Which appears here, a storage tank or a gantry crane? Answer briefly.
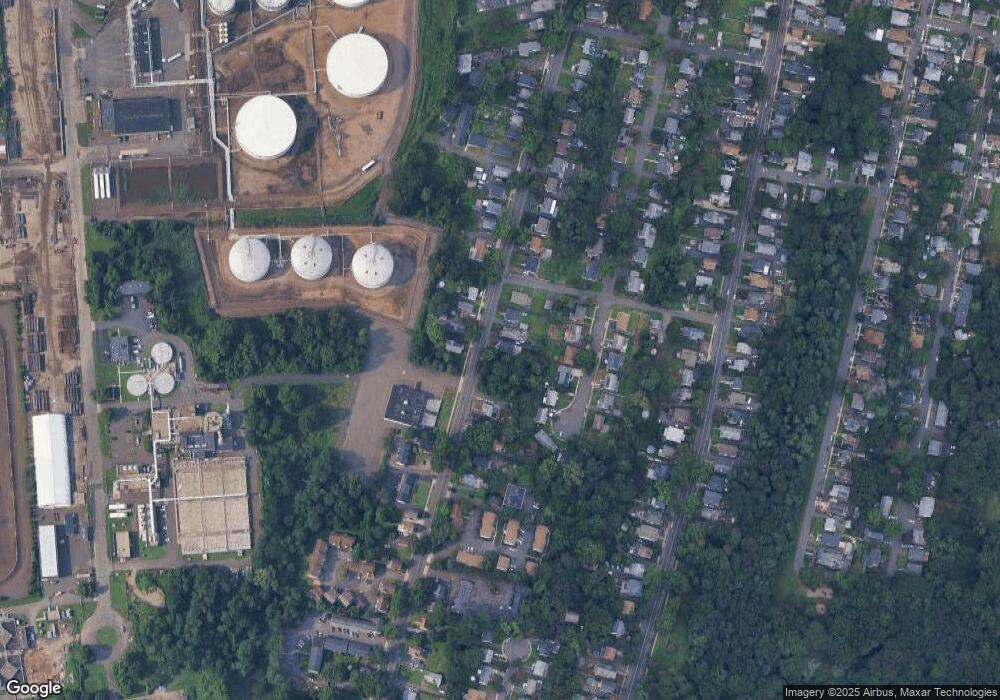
storage tank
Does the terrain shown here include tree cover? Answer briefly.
Yes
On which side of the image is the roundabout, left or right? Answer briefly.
left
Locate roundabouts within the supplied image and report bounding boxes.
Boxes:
[80,597,130,661]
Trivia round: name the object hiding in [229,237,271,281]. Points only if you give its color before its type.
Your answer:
white storage tank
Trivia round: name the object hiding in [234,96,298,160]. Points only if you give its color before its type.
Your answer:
white storage tank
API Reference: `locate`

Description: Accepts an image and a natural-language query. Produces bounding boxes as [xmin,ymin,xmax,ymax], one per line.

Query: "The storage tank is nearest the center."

[352,243,395,287]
